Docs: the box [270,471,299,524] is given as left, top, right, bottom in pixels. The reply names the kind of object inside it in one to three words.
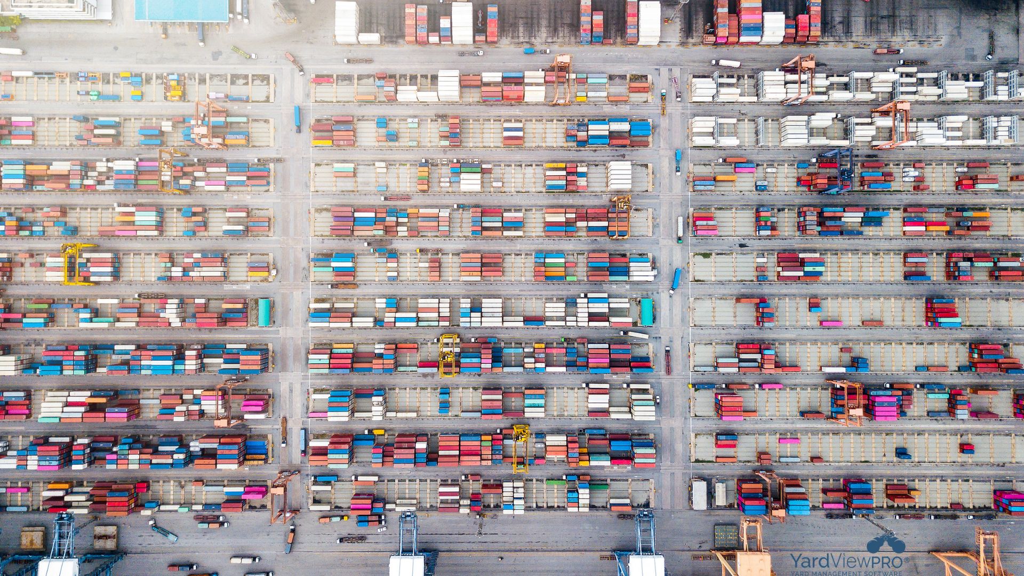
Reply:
container crane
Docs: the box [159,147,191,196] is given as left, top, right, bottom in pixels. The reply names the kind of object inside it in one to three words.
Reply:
container crane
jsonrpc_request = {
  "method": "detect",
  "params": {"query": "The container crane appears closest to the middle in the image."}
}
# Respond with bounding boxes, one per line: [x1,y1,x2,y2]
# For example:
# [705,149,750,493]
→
[439,334,461,380]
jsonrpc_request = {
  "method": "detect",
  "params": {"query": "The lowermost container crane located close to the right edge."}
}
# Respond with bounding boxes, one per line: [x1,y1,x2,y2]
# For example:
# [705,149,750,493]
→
[930,529,1011,576]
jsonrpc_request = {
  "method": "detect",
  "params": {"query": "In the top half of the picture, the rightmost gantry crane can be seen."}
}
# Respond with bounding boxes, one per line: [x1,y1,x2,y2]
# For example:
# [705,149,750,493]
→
[872,100,912,151]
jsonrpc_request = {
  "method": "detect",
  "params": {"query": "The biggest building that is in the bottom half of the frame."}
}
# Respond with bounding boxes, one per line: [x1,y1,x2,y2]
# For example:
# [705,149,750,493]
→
[689,477,707,509]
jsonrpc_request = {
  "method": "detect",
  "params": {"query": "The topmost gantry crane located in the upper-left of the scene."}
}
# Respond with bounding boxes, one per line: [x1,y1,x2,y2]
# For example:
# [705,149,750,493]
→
[193,100,228,151]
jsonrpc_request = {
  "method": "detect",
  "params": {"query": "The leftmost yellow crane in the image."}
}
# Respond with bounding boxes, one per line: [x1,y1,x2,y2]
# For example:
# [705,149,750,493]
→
[63,241,101,287]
